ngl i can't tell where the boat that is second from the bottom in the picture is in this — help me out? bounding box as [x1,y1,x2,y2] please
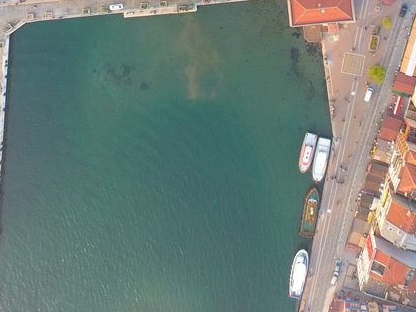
[300,186,318,237]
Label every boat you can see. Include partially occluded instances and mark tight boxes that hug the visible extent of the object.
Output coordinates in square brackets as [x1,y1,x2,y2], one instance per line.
[288,248,310,298]
[300,186,318,237]
[314,136,332,181]
[300,131,317,172]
